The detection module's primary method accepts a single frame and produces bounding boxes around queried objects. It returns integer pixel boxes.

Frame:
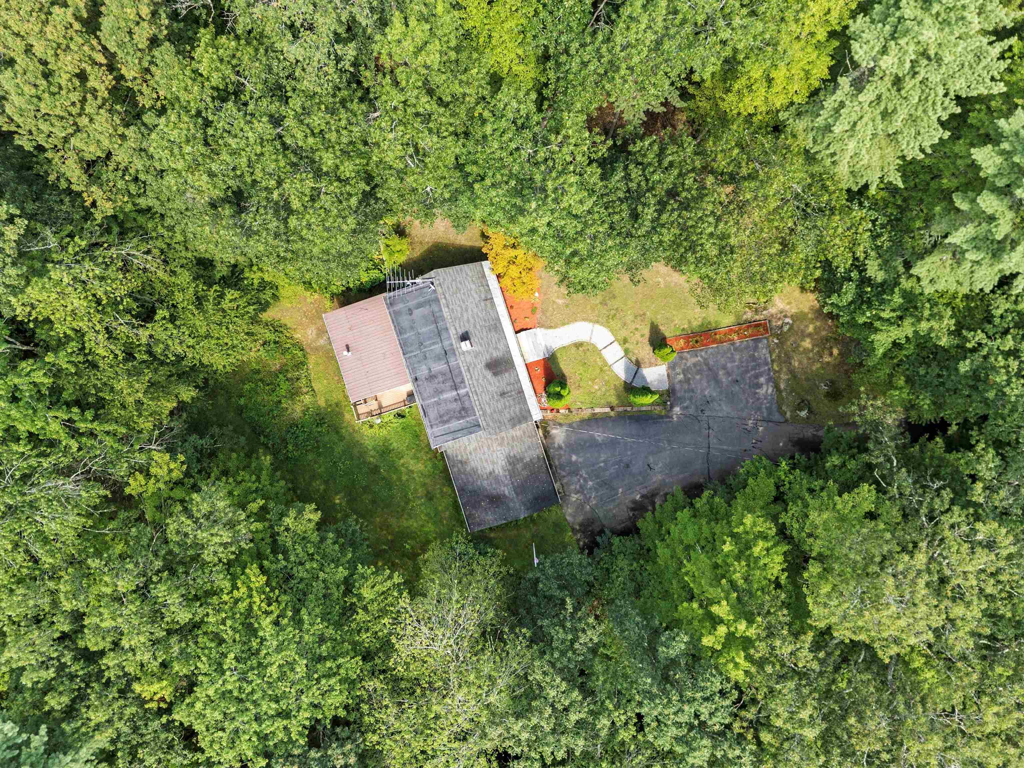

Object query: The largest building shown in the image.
[322,259,563,531]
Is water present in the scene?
No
